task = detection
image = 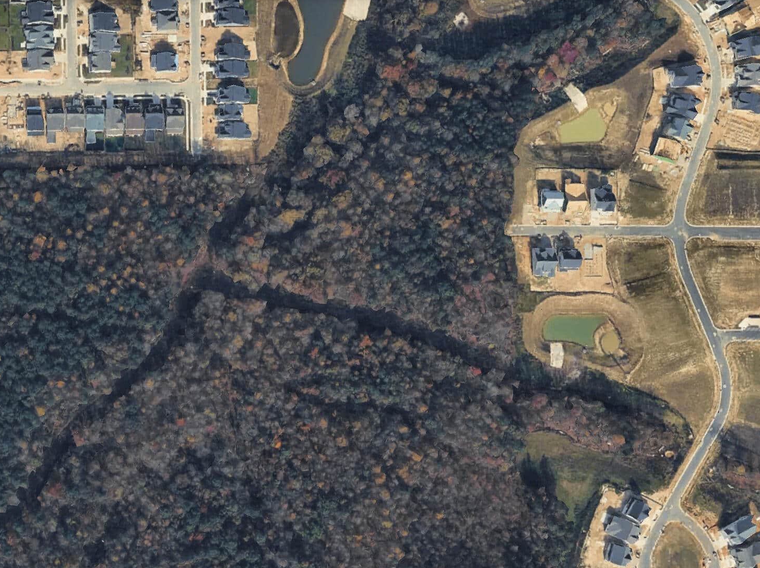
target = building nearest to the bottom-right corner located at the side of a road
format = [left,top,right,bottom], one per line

[726,541,760,568]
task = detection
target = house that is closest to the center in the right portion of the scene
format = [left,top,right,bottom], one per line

[531,247,558,277]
